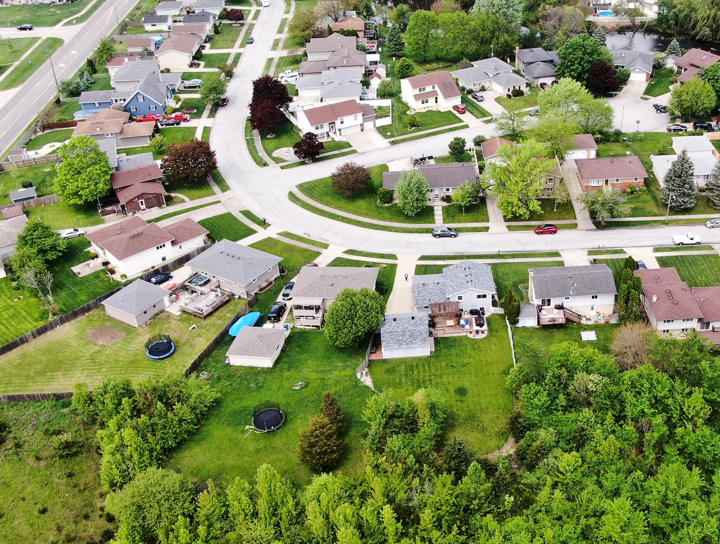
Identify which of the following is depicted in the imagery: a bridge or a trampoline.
trampoline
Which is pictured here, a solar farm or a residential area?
residential area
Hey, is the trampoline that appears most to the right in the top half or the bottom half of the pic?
bottom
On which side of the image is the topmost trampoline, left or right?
left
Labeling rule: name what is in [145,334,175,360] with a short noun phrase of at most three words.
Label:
trampoline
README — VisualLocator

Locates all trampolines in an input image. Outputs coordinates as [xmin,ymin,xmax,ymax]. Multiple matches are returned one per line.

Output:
[251,400,285,434]
[145,334,175,360]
